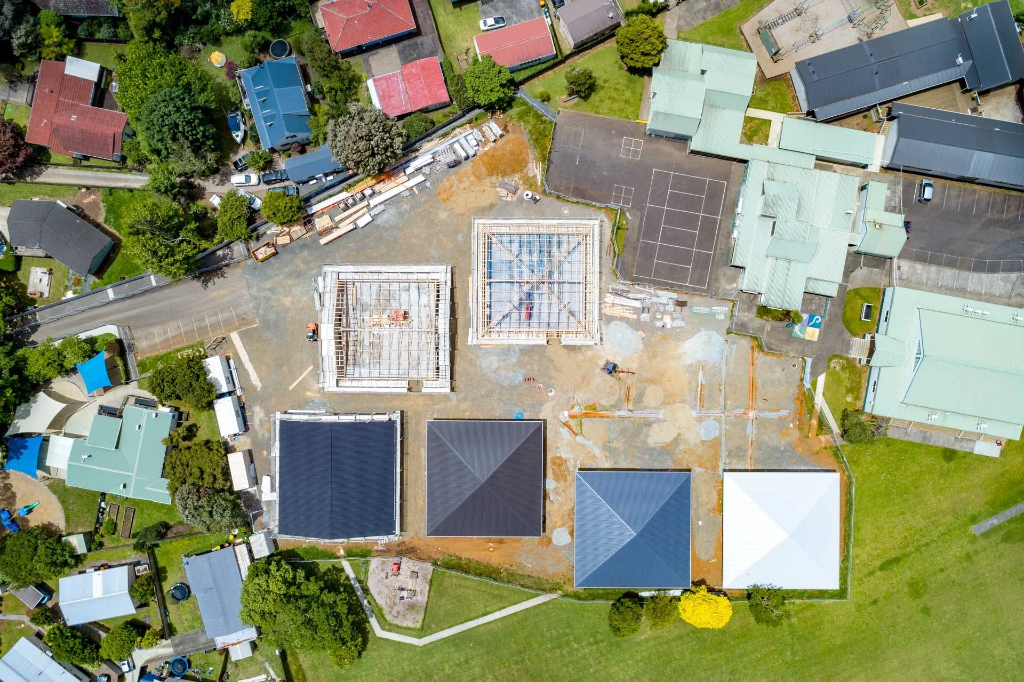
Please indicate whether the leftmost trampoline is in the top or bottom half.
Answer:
bottom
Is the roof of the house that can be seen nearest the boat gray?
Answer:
No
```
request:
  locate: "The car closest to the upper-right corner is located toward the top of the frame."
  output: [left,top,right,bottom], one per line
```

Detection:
[917,179,932,204]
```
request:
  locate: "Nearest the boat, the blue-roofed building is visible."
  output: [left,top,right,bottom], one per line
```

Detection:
[236,55,311,150]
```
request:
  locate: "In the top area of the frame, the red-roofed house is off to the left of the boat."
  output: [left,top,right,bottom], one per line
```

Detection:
[27,55,133,163]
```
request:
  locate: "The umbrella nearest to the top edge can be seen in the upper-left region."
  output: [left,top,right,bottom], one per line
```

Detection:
[210,51,227,68]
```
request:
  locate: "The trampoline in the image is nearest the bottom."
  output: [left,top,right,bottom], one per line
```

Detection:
[167,582,189,602]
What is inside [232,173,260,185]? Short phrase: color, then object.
white vehicle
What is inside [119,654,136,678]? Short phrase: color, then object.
white car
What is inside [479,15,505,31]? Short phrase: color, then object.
white car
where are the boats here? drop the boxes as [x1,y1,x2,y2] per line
[224,101,242,146]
